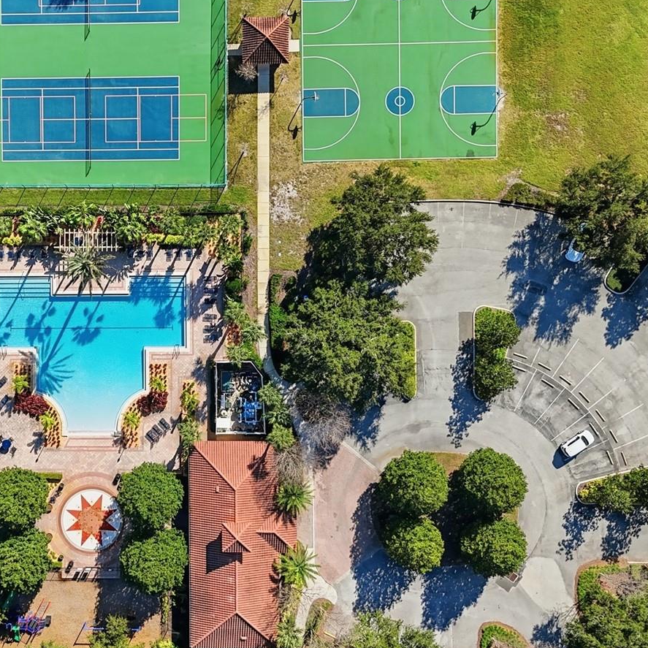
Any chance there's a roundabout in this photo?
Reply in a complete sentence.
Yes, the picture does show a roundabout.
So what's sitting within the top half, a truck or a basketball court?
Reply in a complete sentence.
It is a basketball court that can be seen within the top half.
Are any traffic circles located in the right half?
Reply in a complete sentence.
Yes, the scene does show a traffic circle in the right half.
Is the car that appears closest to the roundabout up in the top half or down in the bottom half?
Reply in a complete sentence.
The car that appears closest to the roundabout is in the bottom half of the image.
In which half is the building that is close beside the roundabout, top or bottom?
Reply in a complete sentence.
It is in the bottom half that the building that is close beside the roundabout appears.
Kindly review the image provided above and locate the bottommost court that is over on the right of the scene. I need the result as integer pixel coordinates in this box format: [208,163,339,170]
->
[302,40,497,162]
